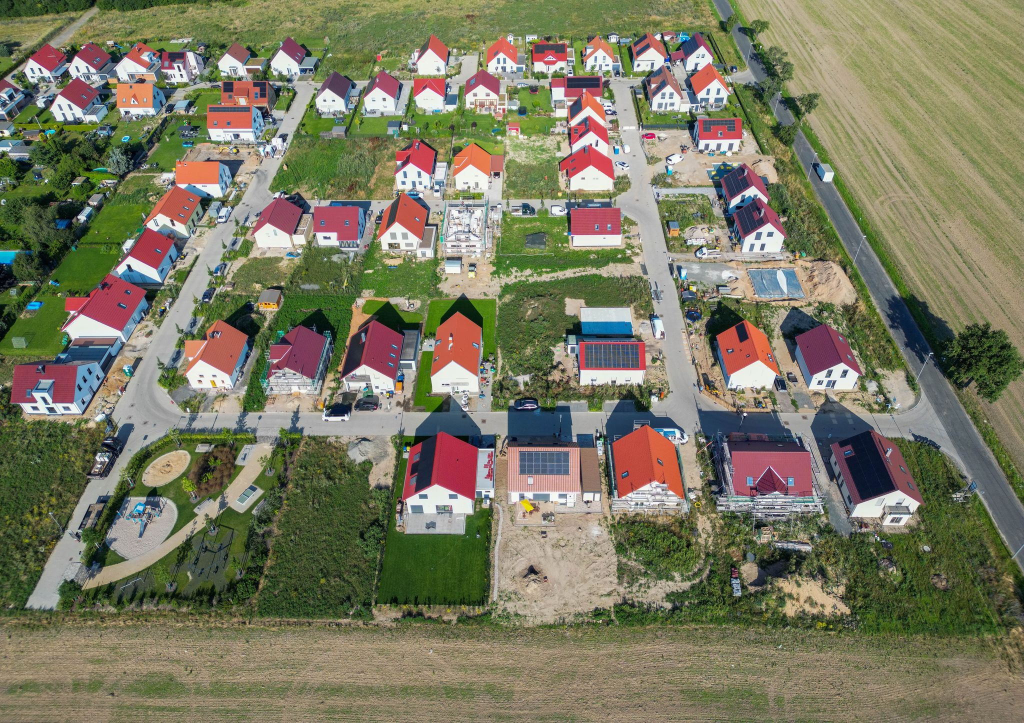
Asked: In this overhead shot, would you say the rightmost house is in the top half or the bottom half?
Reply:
bottom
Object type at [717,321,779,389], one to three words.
house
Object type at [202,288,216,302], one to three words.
car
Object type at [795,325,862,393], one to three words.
house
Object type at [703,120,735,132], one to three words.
solar array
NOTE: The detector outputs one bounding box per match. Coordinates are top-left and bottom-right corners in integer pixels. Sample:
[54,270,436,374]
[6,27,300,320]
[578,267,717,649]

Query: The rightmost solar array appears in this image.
[839,432,891,499]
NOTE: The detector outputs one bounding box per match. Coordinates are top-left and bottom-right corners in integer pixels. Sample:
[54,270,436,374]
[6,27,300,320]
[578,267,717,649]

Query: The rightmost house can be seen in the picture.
[830,431,922,525]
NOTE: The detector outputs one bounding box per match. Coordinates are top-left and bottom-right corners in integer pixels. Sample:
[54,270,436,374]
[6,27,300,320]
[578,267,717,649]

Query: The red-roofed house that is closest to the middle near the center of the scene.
[428,312,483,392]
